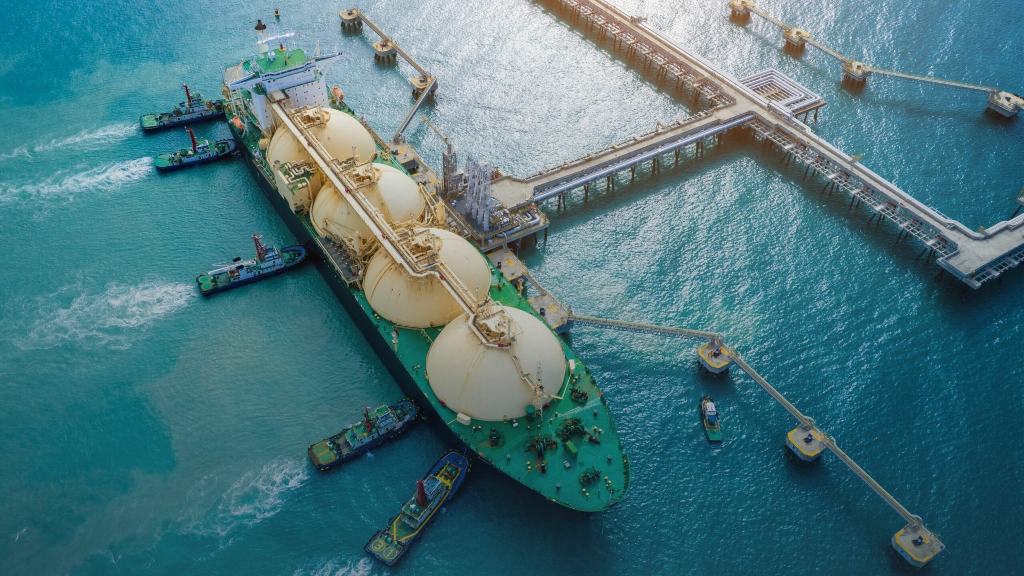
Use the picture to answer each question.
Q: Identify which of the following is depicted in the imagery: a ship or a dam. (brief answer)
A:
ship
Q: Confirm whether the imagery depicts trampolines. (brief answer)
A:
No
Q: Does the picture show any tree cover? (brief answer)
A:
No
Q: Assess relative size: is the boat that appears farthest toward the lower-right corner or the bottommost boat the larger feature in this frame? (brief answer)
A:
the bottommost boat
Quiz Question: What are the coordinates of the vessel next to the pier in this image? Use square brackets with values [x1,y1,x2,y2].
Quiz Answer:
[219,18,629,525]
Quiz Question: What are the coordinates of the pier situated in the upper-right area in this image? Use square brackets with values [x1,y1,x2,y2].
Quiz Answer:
[556,0,1024,300]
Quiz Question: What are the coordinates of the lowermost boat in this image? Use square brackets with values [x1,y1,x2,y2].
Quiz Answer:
[363,449,467,569]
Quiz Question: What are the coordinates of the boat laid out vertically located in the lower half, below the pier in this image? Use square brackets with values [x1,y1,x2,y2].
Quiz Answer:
[702,393,726,442]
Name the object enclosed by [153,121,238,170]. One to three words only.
boat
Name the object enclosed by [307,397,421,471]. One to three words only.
boat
